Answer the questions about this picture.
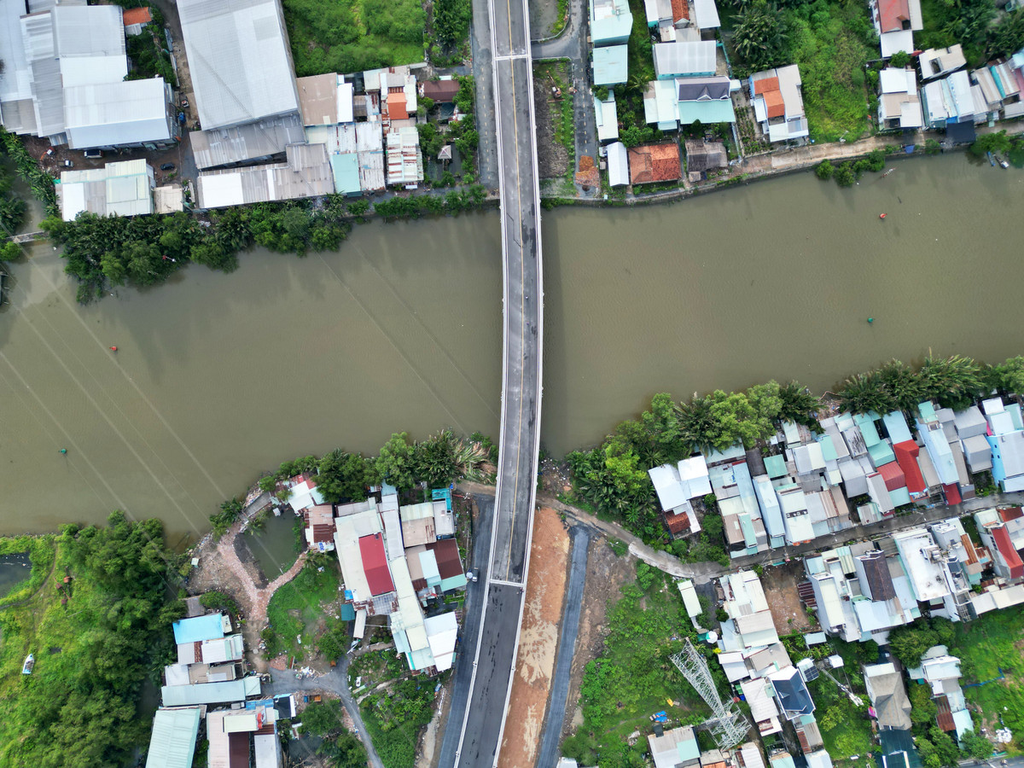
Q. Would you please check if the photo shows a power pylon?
Yes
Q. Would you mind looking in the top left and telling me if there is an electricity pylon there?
No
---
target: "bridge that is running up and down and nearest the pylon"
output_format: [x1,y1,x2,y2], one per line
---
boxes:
[454,0,544,768]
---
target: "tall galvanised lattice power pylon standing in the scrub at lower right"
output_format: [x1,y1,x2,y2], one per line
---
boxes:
[671,639,753,747]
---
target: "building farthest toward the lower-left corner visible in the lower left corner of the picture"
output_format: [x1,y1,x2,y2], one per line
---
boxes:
[145,701,211,768]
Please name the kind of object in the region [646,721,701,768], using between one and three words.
house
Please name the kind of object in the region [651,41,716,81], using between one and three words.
building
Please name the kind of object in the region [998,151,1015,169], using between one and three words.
boat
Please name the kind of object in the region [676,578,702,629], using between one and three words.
shed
